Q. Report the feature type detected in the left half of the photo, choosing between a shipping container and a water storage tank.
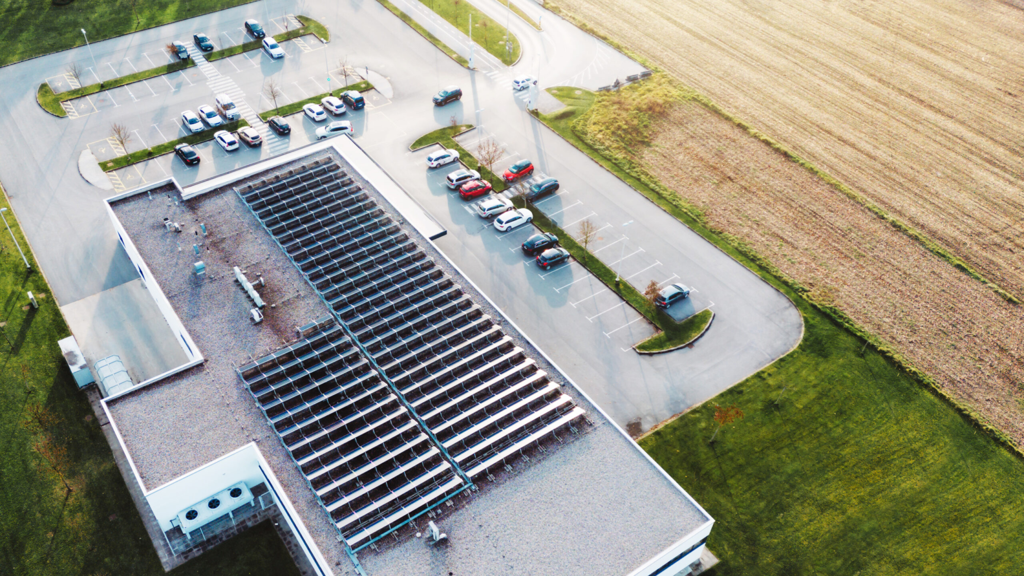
shipping container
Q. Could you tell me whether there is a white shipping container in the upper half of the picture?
No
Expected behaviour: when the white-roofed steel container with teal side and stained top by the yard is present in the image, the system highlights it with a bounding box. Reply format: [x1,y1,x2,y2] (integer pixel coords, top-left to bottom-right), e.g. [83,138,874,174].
[56,334,97,392]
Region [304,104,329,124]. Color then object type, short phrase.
white car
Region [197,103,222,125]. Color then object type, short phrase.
white car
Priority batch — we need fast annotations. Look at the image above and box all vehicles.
[422,149,460,170]
[314,118,354,140]
[501,160,535,181]
[512,75,538,92]
[243,20,264,38]
[652,283,691,310]
[524,175,562,201]
[262,39,285,59]
[197,103,222,125]
[236,126,262,148]
[519,231,558,257]
[490,209,533,234]
[431,84,463,106]
[168,40,189,60]
[194,34,216,52]
[179,109,203,131]
[304,104,329,124]
[175,144,201,167]
[215,131,241,154]
[457,180,493,202]
[322,96,349,117]
[270,116,295,136]
[443,169,481,191]
[533,247,570,271]
[214,94,240,120]
[341,91,367,111]
[475,198,514,221]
